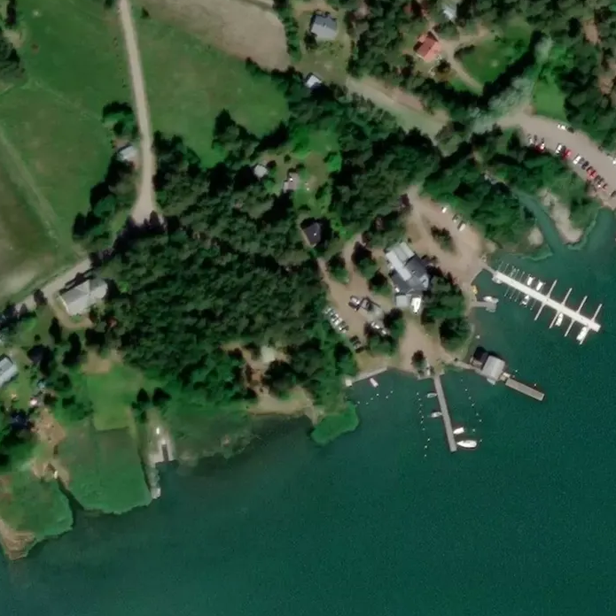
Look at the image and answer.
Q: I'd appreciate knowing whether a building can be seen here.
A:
Yes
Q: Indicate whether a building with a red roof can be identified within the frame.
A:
Yes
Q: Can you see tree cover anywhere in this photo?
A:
Yes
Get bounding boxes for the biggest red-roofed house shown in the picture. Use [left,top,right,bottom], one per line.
[412,31,443,61]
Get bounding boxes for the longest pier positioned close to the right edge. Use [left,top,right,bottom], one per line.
[493,262,601,345]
